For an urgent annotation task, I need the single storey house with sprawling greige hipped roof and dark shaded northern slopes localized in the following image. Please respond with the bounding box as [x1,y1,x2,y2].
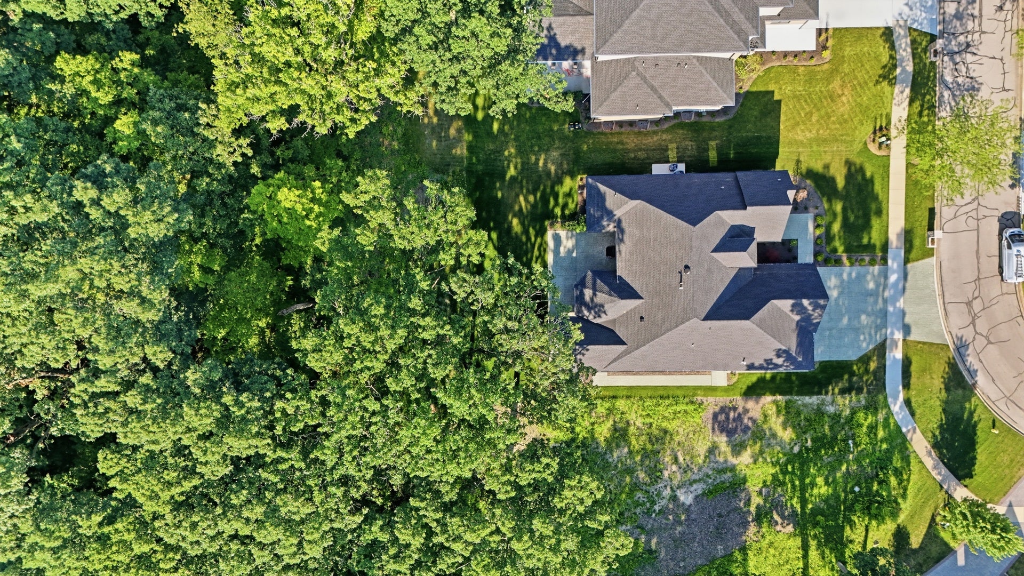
[568,170,829,373]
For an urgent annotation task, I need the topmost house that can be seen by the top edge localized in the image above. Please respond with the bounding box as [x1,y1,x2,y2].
[523,0,819,132]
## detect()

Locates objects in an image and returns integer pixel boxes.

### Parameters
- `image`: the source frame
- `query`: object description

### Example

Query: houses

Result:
[523,0,819,132]
[568,170,829,373]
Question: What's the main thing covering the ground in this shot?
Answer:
trees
